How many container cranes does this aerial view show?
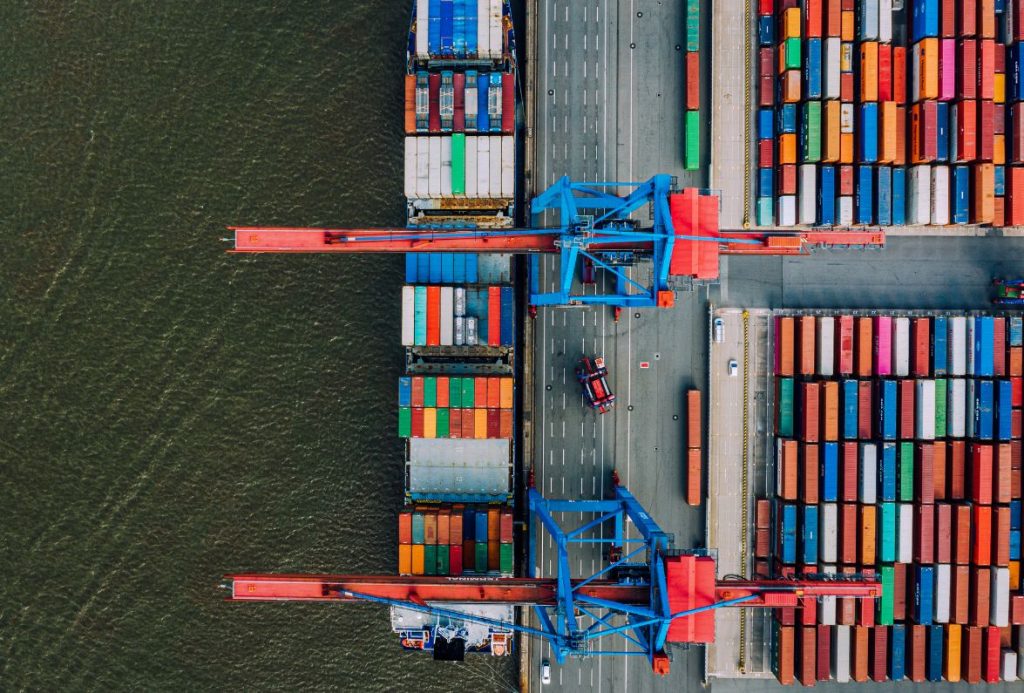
two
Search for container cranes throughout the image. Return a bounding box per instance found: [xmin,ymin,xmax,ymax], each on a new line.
[220,169,888,321]
[223,473,881,673]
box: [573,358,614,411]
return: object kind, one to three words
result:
work vehicle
